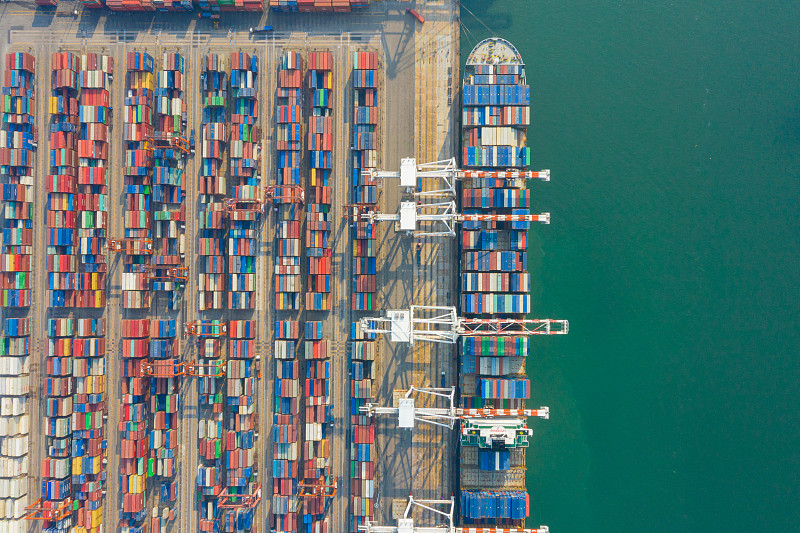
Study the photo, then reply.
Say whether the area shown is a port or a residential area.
port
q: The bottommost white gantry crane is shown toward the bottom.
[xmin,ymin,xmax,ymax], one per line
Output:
[363,488,550,533]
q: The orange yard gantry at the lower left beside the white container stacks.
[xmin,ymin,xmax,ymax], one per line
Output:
[24,498,73,520]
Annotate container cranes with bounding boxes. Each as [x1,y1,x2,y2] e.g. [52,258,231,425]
[24,498,73,520]
[363,377,550,431]
[107,238,153,253]
[145,136,189,154]
[145,265,189,280]
[264,184,305,202]
[184,320,227,336]
[363,488,550,533]
[220,485,262,507]
[359,299,570,345]
[342,204,380,220]
[363,153,550,200]
[224,199,266,215]
[363,199,550,242]
[298,474,338,497]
